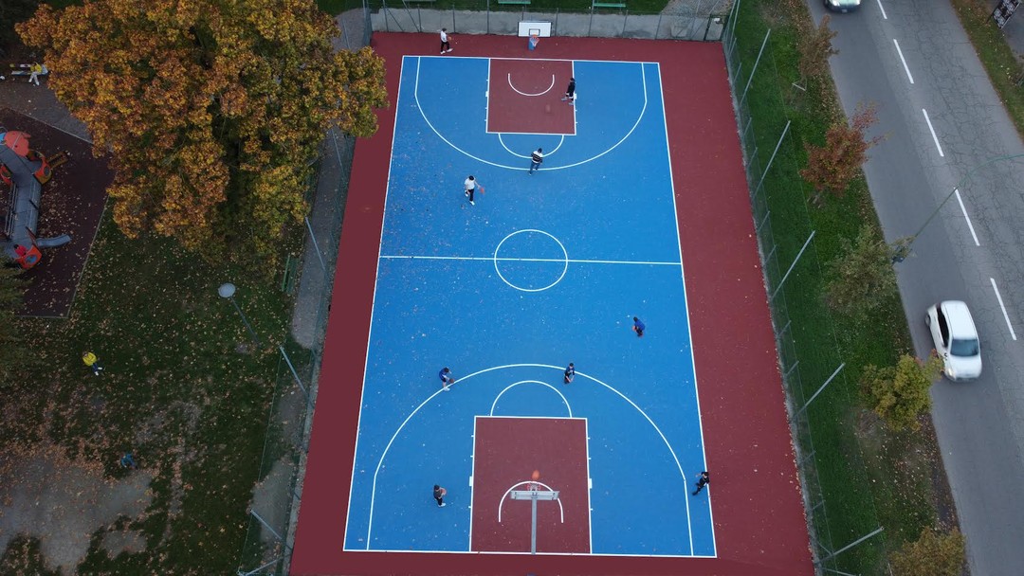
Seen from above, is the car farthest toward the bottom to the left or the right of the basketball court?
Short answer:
to the right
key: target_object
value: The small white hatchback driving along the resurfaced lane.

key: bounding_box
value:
[923,297,988,377]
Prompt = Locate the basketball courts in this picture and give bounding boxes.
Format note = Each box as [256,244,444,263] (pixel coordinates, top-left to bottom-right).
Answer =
[287,31,822,576]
